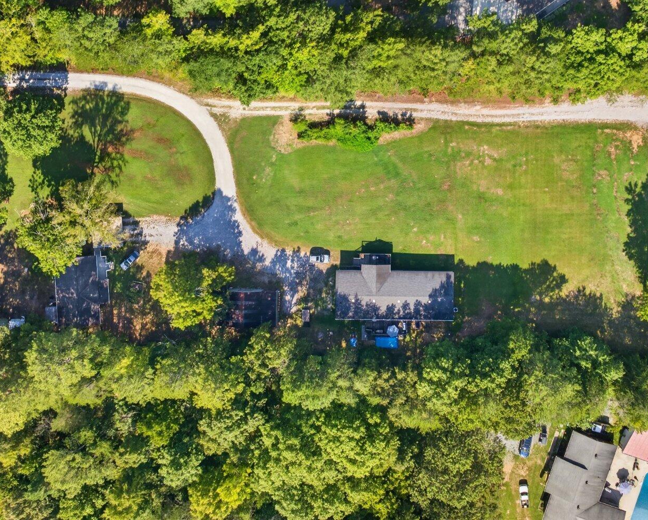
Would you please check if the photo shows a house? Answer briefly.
Yes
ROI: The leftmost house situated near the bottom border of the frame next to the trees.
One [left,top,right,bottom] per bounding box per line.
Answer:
[531,429,626,520]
